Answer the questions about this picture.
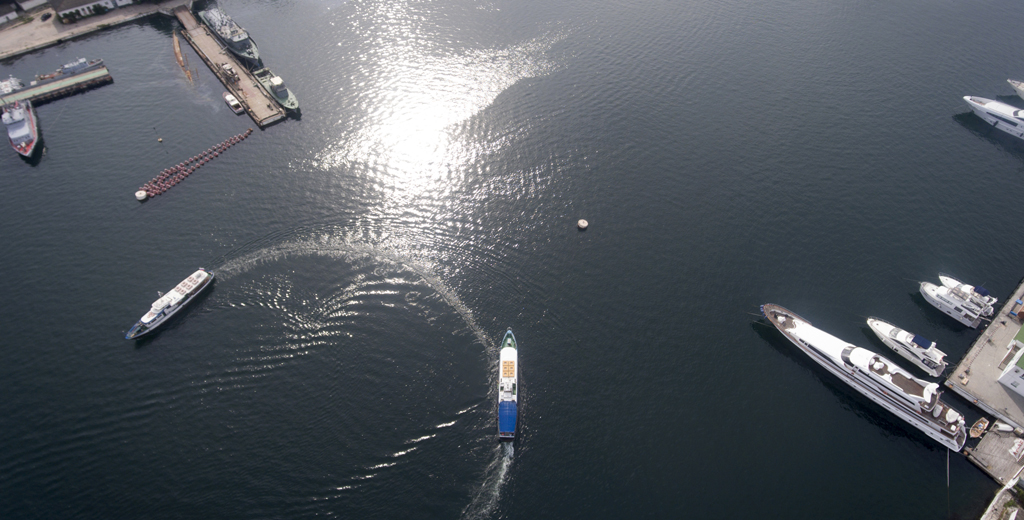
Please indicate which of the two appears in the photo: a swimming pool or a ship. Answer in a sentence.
This aerial view contains a ship.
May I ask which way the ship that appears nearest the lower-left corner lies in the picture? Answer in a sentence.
From this overhead view, the ship that appears nearest the lower-left corner appears to run at an angle.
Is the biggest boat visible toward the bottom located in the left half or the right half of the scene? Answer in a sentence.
The biggest boat visible toward the bottom sits on the right side.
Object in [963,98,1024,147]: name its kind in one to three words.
boat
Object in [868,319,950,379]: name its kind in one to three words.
boat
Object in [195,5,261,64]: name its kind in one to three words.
ship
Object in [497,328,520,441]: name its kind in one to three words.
ship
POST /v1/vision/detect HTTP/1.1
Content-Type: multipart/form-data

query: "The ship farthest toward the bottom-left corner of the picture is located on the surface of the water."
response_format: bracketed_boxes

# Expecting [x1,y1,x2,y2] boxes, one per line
[124,266,220,340]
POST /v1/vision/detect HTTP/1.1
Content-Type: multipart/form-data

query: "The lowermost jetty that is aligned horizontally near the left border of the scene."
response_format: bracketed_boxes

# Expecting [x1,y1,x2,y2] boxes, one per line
[0,64,109,111]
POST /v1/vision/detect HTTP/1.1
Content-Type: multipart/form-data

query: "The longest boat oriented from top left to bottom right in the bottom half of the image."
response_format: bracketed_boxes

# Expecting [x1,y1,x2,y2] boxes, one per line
[760,303,969,452]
